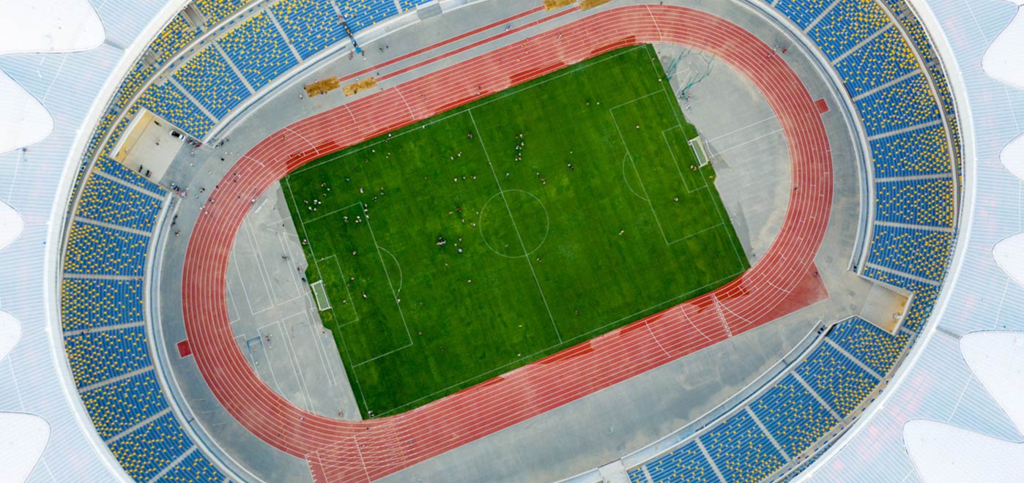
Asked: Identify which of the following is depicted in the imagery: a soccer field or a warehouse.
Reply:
soccer field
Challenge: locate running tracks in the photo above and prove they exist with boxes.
[176,5,834,483]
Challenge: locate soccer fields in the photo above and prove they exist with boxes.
[279,43,752,421]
